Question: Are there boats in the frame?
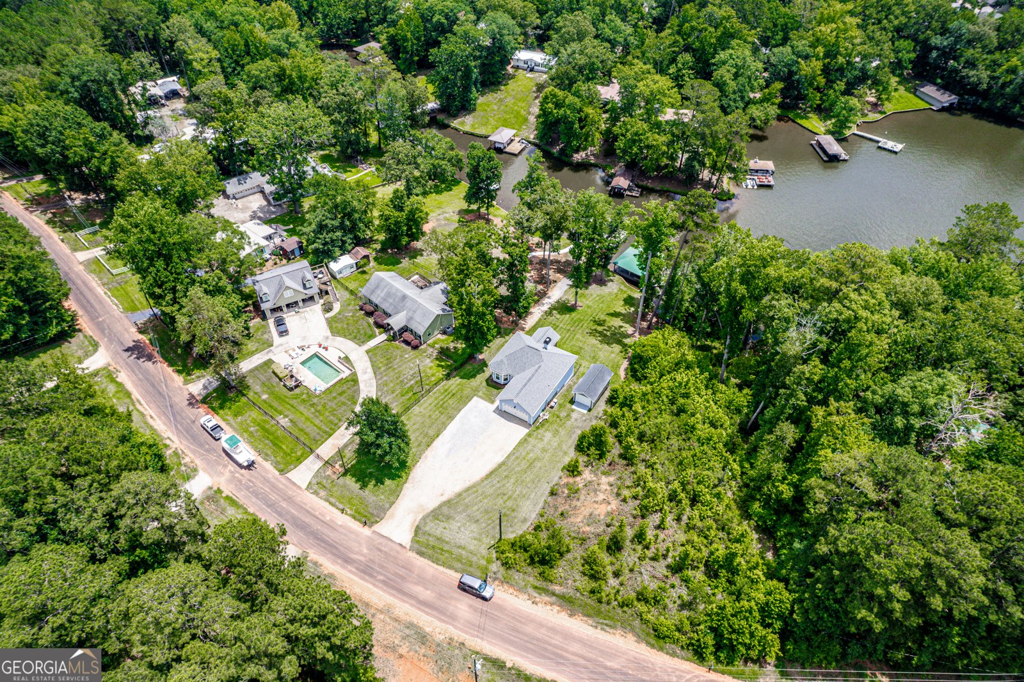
Yes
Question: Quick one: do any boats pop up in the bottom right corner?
No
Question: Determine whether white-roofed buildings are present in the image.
Yes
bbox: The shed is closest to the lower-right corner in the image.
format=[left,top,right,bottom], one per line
[572,366,612,414]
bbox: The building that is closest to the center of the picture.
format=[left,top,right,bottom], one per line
[487,326,583,425]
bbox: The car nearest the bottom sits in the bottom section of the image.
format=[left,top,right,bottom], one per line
[456,570,495,602]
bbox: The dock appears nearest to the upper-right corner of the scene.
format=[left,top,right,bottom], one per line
[851,132,923,159]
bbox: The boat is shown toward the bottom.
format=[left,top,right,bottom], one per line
[221,434,262,473]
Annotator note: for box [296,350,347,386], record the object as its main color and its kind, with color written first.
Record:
white swimming pool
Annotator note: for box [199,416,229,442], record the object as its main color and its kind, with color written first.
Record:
white truck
